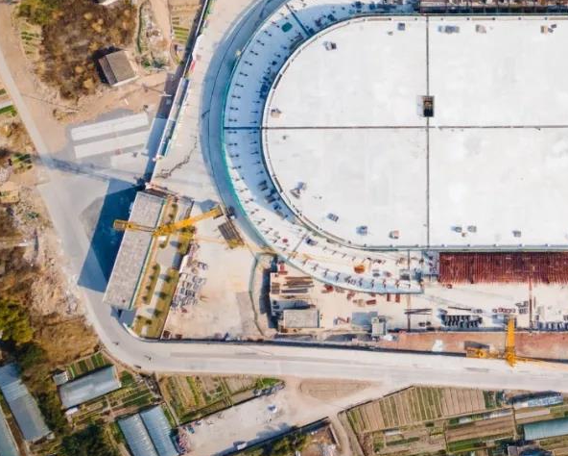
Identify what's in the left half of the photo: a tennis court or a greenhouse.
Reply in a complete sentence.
It is a greenhouse that can be seen in the left half of the photo.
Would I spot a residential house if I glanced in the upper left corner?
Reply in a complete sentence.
Yes, a residential house is visible in the upper left corner.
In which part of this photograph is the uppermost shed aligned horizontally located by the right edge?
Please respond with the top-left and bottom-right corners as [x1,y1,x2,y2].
[514,389,563,408]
